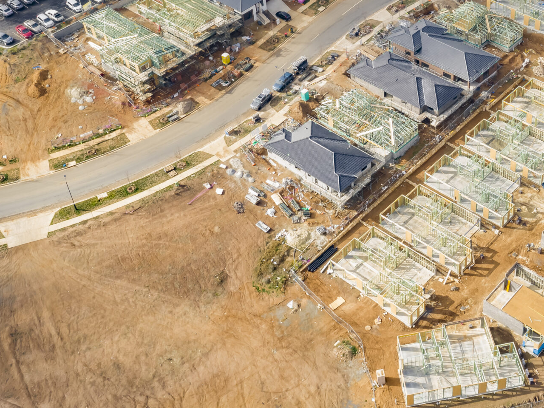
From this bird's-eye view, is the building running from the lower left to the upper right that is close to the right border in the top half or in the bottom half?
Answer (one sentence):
You can find the building running from the lower left to the upper right that is close to the right border in the bottom half.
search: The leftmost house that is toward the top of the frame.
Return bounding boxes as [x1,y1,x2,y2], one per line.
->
[80,7,175,94]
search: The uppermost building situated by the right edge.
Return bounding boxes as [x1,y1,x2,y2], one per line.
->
[432,0,529,53]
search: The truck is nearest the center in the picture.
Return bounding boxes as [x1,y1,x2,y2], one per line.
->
[248,87,275,108]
